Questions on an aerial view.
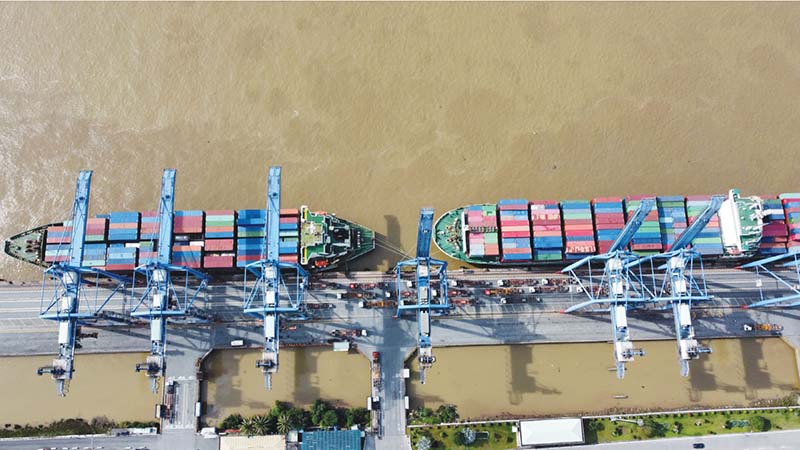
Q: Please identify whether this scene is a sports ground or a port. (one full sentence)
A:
This image shows a port.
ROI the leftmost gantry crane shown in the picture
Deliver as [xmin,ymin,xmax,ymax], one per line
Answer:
[28,168,144,397]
